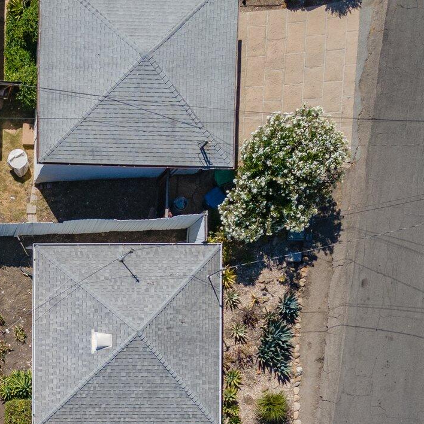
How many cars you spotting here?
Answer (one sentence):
The photo contains no cars.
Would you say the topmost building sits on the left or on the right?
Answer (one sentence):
It is on the left.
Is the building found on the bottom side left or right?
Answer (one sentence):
It is on the left.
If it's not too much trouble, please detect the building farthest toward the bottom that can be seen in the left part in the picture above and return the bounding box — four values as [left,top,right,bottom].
[29,240,225,424]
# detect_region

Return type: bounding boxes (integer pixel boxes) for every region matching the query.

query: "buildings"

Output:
[29,240,225,424]
[34,0,240,182]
